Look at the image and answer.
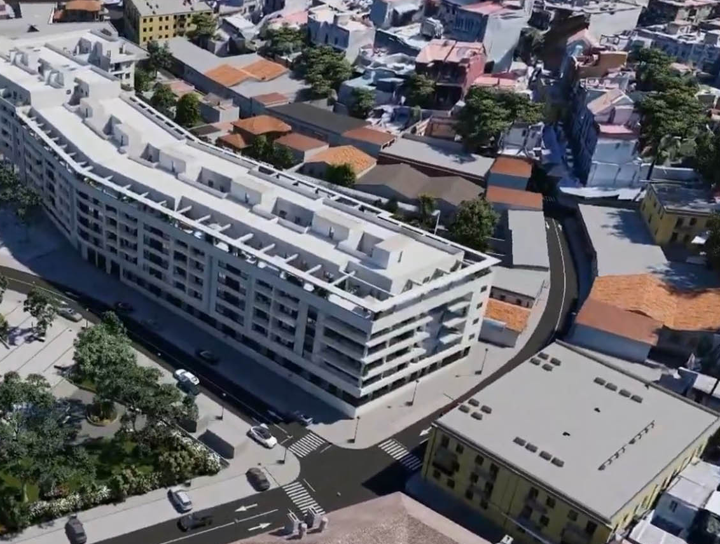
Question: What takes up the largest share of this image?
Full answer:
The scene is dominated by buildings.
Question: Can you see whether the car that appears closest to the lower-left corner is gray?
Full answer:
Yes, gray is the color of the car that appears closest to the lower-left corner.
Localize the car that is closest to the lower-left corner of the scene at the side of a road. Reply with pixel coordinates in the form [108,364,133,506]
[63,514,87,544]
